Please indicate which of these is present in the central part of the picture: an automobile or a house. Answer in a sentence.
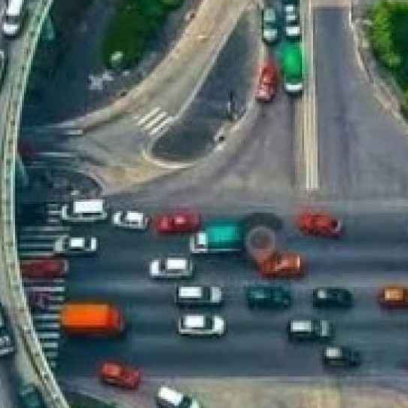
What appears in the central part of the picture is an automobile.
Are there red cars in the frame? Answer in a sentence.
Yes, the frame does contain a red car.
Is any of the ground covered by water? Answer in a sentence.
No, there is no water in the image.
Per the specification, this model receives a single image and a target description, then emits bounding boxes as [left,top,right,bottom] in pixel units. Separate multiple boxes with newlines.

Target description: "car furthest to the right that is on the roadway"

[378,286,408,309]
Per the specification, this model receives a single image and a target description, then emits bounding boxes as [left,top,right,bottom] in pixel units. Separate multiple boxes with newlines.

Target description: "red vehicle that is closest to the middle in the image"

[153,213,200,235]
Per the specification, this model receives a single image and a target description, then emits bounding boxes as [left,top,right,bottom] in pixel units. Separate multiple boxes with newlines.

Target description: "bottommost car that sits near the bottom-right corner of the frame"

[320,346,363,369]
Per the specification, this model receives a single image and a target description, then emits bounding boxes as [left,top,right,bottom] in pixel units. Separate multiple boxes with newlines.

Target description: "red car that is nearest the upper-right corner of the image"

[257,66,276,100]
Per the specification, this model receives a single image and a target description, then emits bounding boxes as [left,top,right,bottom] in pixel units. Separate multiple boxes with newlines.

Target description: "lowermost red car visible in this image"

[97,362,142,389]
